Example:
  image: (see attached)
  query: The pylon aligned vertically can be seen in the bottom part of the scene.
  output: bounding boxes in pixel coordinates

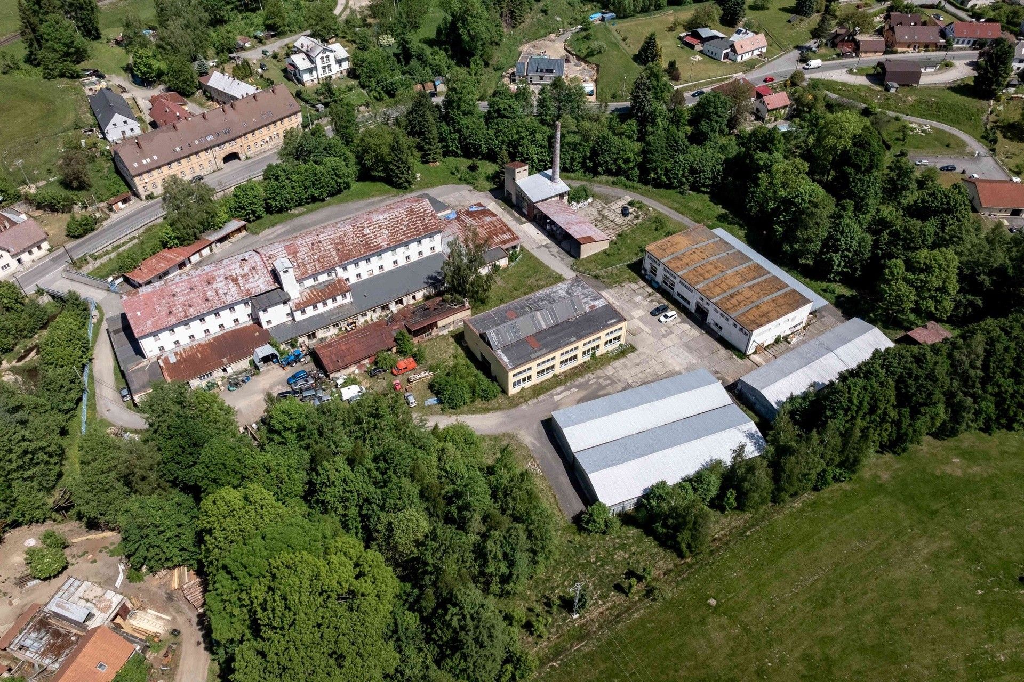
[566,579,590,624]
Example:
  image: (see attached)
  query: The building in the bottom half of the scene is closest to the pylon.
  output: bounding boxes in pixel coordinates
[550,367,771,514]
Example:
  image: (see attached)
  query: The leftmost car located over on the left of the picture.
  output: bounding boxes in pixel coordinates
[116,387,134,405]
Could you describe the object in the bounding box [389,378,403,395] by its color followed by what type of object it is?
red car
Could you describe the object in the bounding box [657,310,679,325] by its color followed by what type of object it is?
white car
